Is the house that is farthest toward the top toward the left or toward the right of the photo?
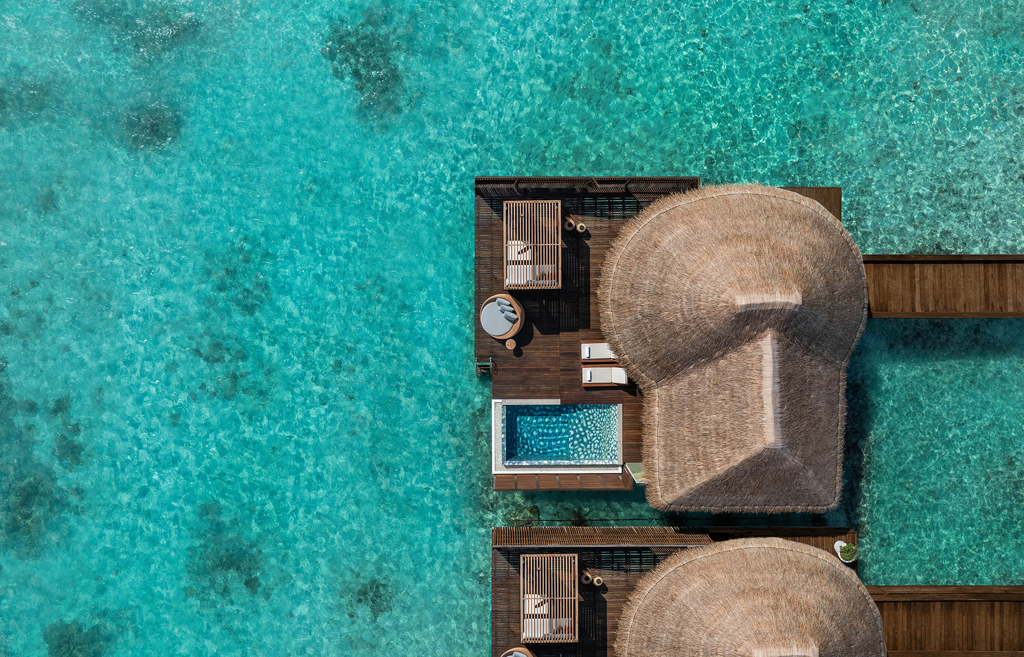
right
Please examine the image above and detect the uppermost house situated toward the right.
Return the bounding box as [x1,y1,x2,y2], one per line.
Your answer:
[595,181,871,518]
